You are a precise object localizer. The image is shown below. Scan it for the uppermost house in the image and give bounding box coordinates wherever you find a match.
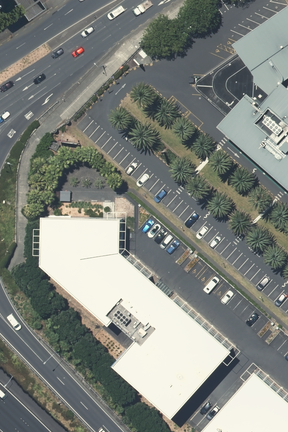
[16,0,46,21]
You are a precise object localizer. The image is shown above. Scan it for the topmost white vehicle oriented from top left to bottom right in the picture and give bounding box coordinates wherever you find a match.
[6,313,21,329]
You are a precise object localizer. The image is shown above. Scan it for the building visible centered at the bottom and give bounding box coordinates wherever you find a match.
[33,212,240,419]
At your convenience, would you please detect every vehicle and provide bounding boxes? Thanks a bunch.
[148,224,160,237]
[136,172,150,186]
[106,5,126,20]
[221,289,235,304]
[126,161,138,174]
[274,292,288,306]
[199,400,213,414]
[50,47,64,58]
[153,228,168,242]
[0,80,14,92]
[246,314,259,326]
[184,212,199,227]
[6,313,21,329]
[32,73,46,84]
[196,224,210,239]
[166,239,180,253]
[0,388,7,400]
[209,234,222,248]
[206,405,220,420]
[133,0,154,16]
[71,46,85,58]
[256,276,270,290]
[202,276,220,294]
[160,232,174,248]
[81,26,95,37]
[0,110,12,123]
